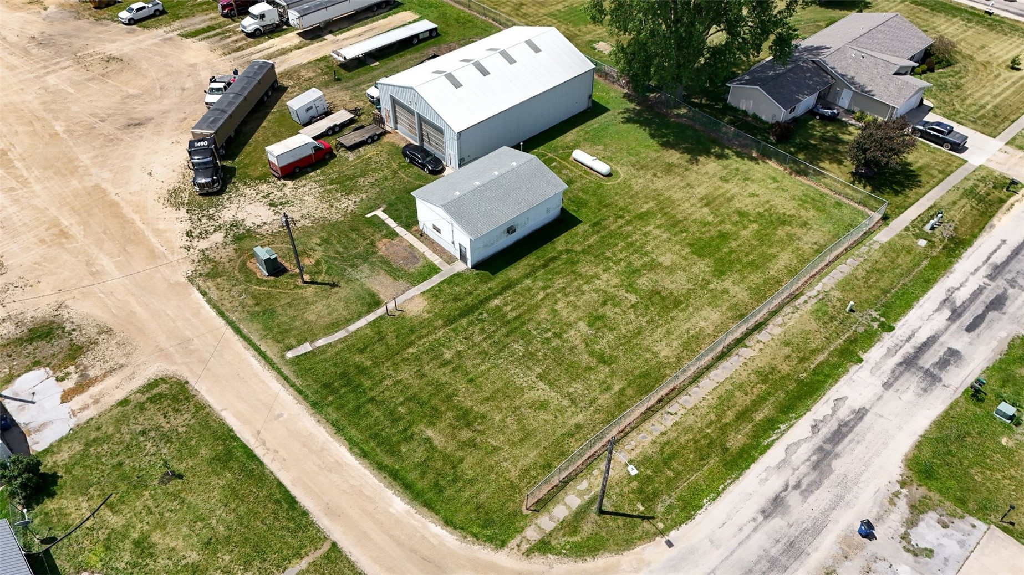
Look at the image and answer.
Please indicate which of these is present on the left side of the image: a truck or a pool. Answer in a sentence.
The feature located on the left side of the image is a truck.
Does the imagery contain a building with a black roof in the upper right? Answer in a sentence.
Yes, looking in the upper right, one can make out a building with a black roof.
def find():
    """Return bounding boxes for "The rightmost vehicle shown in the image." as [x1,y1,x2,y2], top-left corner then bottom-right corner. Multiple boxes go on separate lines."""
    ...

[911,120,970,150]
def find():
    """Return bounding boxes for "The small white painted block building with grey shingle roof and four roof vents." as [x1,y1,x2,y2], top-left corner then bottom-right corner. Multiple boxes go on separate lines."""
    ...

[407,142,570,268]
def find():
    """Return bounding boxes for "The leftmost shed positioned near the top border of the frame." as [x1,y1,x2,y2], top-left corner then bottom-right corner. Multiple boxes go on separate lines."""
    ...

[376,26,595,170]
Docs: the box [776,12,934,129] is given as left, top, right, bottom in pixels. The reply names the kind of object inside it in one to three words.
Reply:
house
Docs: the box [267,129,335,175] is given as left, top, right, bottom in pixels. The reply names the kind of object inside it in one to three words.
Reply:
van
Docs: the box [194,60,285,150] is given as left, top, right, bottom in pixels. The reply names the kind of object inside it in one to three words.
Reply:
trailer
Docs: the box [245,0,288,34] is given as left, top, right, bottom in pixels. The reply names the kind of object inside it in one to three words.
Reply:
truck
